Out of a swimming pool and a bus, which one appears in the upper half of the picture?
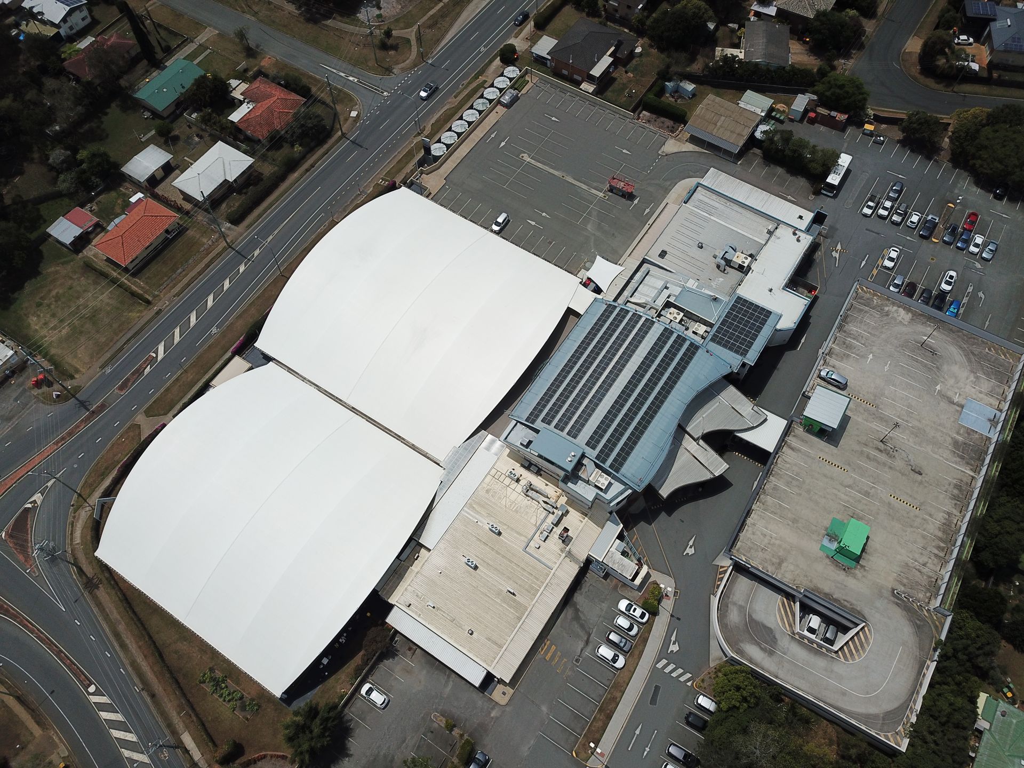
bus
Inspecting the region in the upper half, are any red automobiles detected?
Yes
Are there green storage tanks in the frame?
No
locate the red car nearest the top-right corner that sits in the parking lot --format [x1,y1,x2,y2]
[961,211,980,231]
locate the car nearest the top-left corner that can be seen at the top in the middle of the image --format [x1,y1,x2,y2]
[419,81,437,98]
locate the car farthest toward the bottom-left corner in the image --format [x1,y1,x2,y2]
[361,683,390,711]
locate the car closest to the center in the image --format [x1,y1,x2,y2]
[490,213,509,234]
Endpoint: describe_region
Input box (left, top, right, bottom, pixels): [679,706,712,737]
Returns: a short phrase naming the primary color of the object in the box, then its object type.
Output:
black car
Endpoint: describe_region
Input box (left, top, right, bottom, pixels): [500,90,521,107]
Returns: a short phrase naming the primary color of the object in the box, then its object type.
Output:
gray vehicle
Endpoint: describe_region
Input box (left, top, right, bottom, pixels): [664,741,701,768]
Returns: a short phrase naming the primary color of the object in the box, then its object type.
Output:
black car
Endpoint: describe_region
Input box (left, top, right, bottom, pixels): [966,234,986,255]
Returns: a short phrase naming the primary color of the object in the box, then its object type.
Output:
white car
